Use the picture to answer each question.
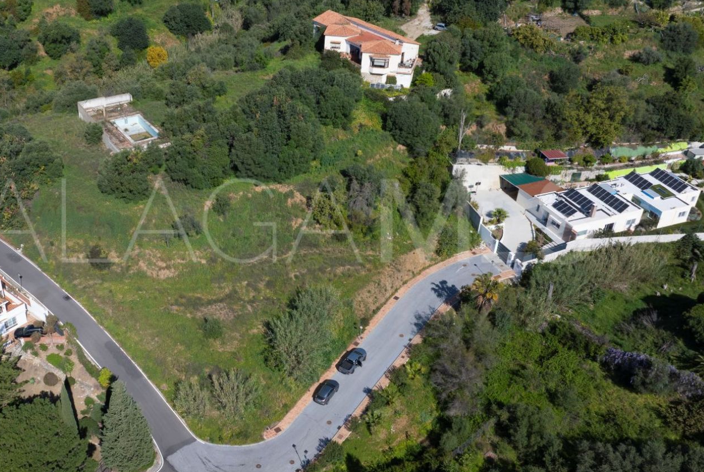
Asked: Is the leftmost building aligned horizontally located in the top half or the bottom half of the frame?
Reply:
top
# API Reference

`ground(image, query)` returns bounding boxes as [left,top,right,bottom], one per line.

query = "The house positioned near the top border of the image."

[312,9,426,79]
